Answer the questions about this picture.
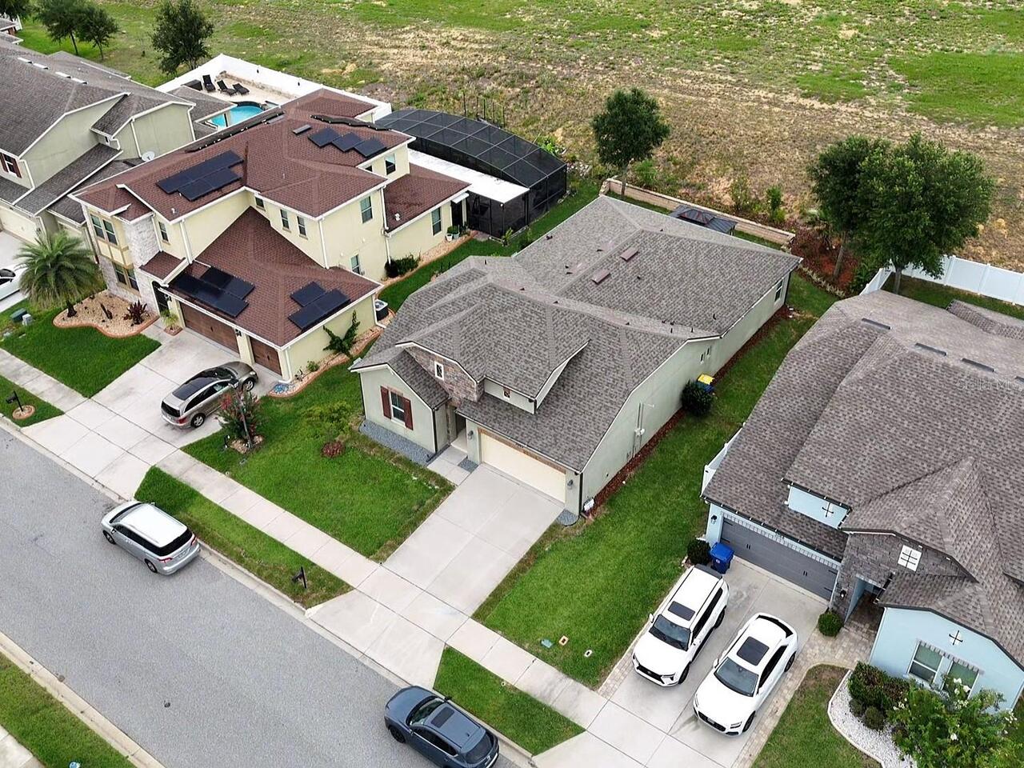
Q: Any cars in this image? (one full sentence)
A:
Yes, this view includes a car.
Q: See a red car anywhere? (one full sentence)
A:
No, this view has no red car in it.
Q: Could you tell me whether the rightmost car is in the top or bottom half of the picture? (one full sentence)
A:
The rightmost car is in the bottom half of the image.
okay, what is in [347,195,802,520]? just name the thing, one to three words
house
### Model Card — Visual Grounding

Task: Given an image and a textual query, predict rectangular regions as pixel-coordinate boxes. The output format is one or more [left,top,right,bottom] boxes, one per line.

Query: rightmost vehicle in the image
[692,615,796,739]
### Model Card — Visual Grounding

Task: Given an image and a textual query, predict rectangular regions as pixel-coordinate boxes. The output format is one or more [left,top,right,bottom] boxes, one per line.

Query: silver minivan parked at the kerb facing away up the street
[101,499,202,576]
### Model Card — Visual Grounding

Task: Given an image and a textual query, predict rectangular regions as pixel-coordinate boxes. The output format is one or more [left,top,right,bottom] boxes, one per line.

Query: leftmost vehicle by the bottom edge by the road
[384,683,509,768]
